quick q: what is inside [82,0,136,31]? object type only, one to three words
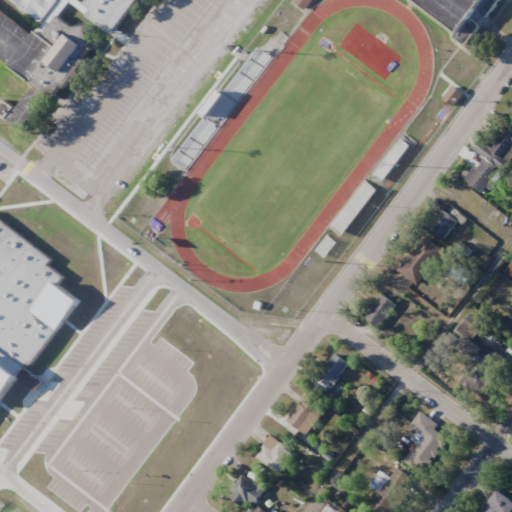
building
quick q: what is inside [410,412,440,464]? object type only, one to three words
house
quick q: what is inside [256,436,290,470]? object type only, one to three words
house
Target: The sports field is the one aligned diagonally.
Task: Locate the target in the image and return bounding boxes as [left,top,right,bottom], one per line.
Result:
[186,2,420,282]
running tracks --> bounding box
[156,0,436,298]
